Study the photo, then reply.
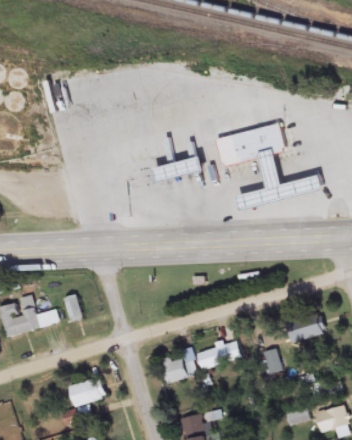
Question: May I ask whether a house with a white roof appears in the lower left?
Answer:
Yes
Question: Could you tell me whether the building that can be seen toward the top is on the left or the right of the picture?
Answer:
right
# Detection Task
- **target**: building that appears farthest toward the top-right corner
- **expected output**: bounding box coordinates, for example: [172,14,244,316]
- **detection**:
[218,122,286,166]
